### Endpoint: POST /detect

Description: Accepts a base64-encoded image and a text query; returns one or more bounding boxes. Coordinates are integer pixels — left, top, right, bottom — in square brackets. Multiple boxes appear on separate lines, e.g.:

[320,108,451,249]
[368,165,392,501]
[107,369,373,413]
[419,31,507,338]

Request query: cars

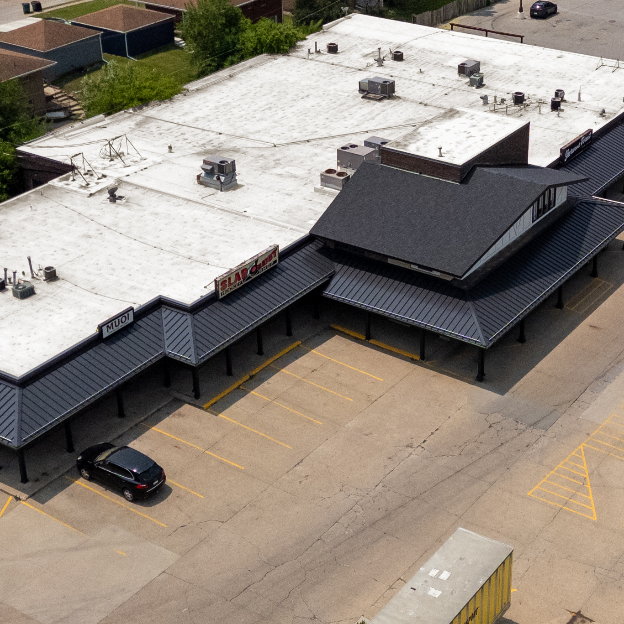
[529,0,561,19]
[72,441,167,500]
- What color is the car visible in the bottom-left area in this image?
black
